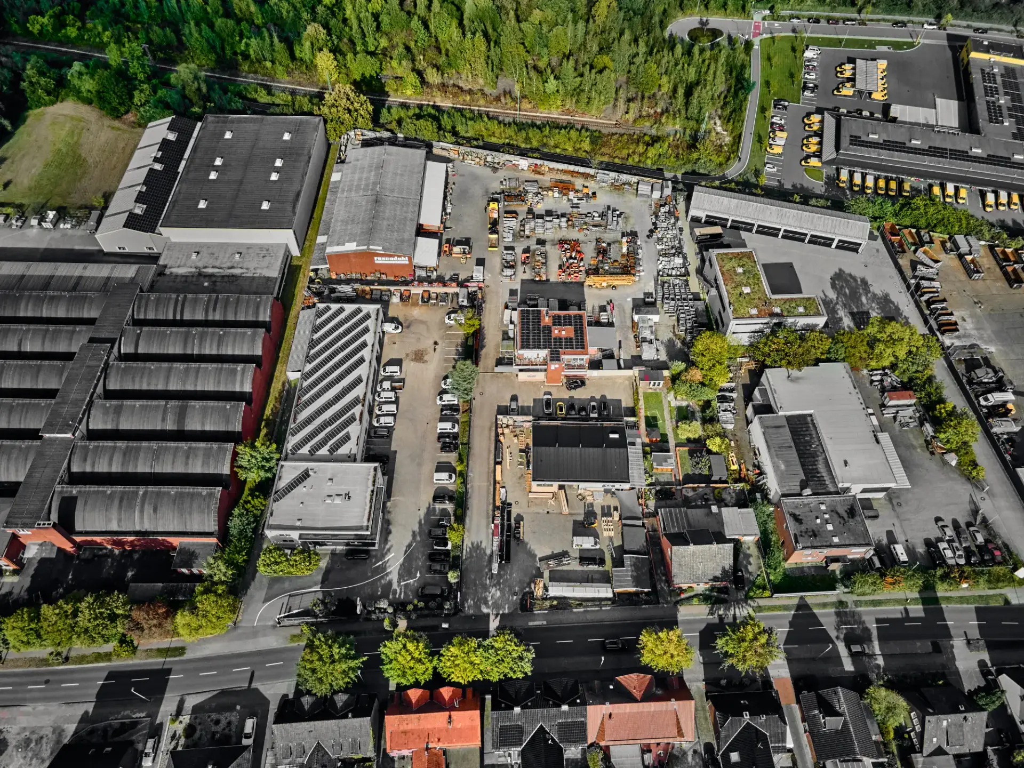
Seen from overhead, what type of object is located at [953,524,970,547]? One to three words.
car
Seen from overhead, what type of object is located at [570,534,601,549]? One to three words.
vehicle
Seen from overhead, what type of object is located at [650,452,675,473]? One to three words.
shed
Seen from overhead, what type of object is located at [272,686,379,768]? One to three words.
house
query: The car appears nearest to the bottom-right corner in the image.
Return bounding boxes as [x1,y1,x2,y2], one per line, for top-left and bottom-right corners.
[985,659,1001,679]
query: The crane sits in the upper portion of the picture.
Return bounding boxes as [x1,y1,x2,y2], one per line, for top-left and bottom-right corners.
[586,270,635,289]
